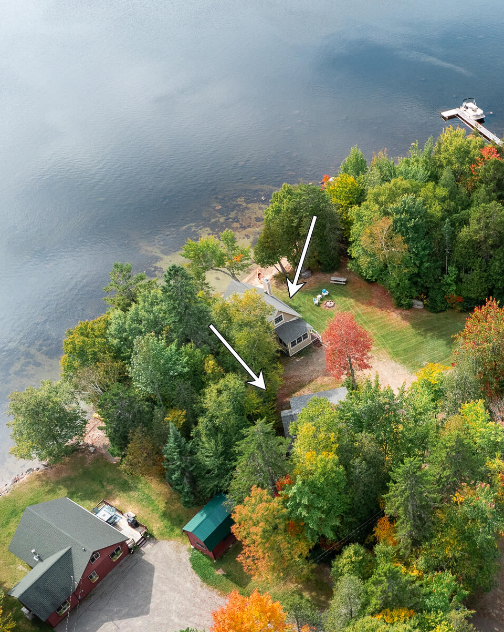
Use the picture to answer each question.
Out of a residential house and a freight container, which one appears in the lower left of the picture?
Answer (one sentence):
The one visible in the lower left of the picture is a residential house.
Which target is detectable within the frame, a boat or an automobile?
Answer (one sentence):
There is a boat in the scene.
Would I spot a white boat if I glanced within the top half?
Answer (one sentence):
Yes, the scene does show a white boat within the top half.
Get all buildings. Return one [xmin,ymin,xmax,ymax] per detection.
[5,495,148,626]
[224,274,320,355]
[282,386,357,448]
[183,498,243,559]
